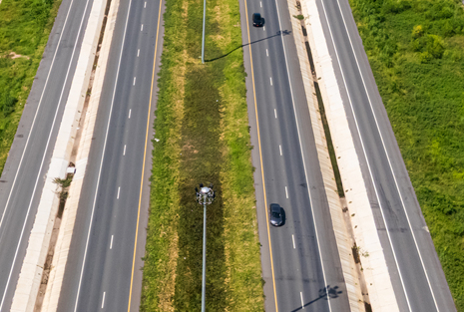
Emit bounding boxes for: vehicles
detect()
[254,9,264,23]
[271,201,286,223]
